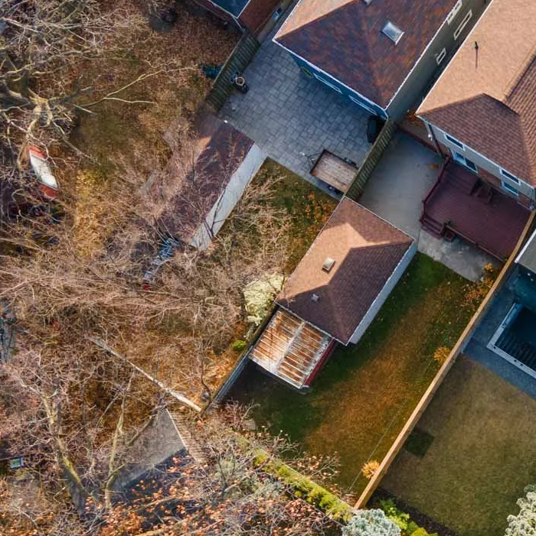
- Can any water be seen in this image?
No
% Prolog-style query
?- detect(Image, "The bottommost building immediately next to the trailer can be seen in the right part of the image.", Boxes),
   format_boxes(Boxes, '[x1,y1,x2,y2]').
[276,196,416,346]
